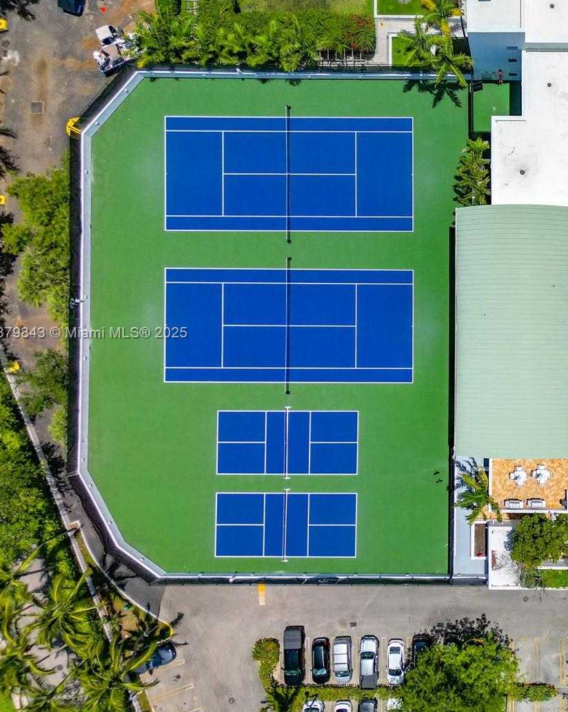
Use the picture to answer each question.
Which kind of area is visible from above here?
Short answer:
sports ground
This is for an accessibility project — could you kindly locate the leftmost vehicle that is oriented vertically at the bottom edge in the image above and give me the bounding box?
[280,624,306,686]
